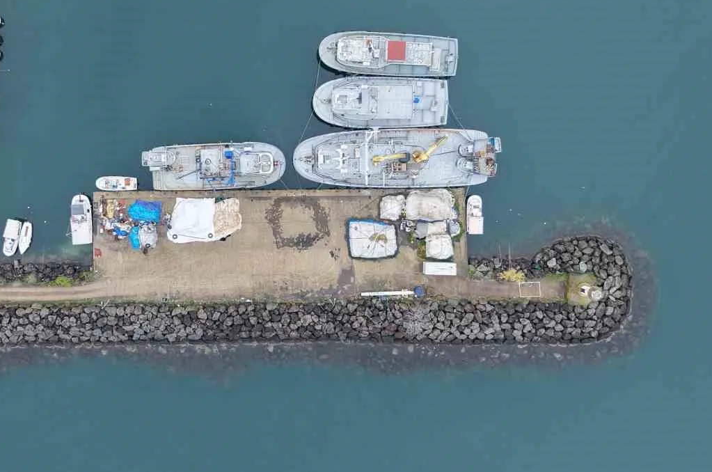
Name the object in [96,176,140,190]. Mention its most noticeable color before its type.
white boat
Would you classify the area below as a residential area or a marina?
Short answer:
marina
